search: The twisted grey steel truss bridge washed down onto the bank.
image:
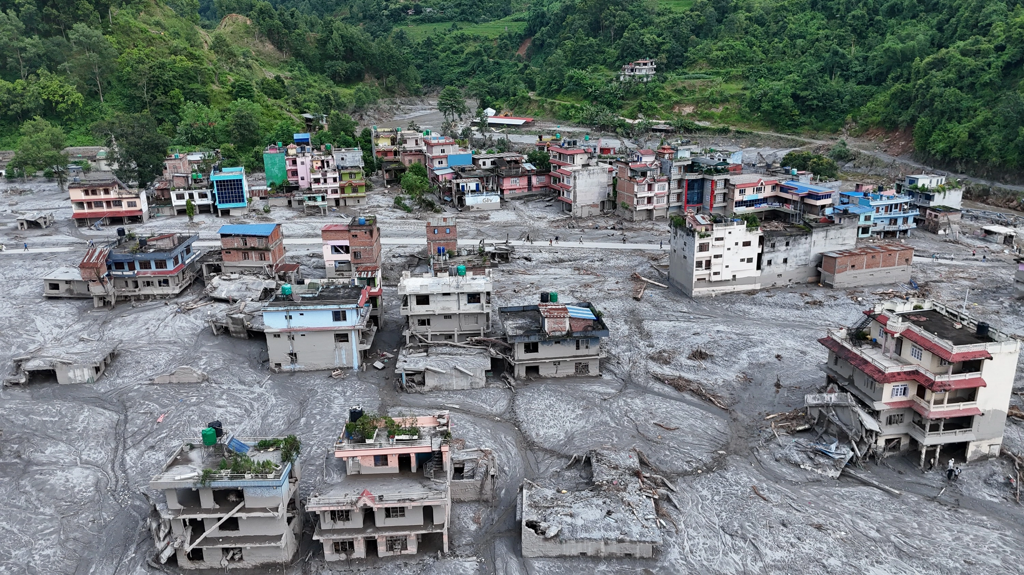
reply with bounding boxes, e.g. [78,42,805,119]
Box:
[962,201,1024,225]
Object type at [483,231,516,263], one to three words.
building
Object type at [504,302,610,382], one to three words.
house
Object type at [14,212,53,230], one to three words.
shed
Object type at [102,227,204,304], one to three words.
house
